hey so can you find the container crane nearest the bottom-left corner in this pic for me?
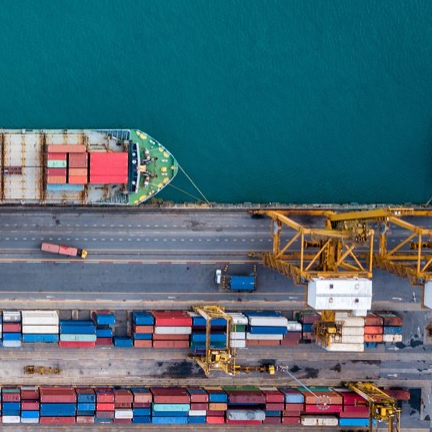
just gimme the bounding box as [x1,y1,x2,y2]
[193,307,236,377]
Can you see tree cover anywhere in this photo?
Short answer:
No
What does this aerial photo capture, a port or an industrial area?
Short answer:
port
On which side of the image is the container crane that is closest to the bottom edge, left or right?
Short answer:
right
